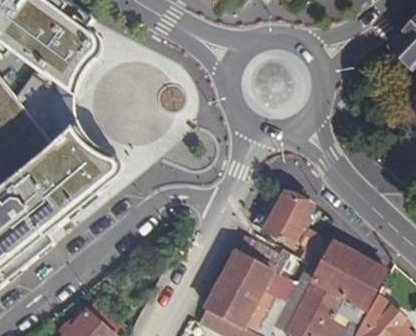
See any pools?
No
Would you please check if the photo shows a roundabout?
Yes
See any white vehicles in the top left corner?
No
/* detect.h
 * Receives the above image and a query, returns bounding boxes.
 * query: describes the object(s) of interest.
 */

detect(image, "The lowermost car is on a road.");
[19,315,36,330]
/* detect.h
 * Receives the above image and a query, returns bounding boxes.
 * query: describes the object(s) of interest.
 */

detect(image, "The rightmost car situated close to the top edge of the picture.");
[360,8,376,22]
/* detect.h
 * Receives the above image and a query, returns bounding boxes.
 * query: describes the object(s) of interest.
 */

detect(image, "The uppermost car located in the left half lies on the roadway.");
[112,199,130,215]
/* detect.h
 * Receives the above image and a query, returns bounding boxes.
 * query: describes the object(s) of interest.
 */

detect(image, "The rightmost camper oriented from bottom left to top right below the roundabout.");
[279,254,296,275]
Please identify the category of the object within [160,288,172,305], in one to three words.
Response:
vehicle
